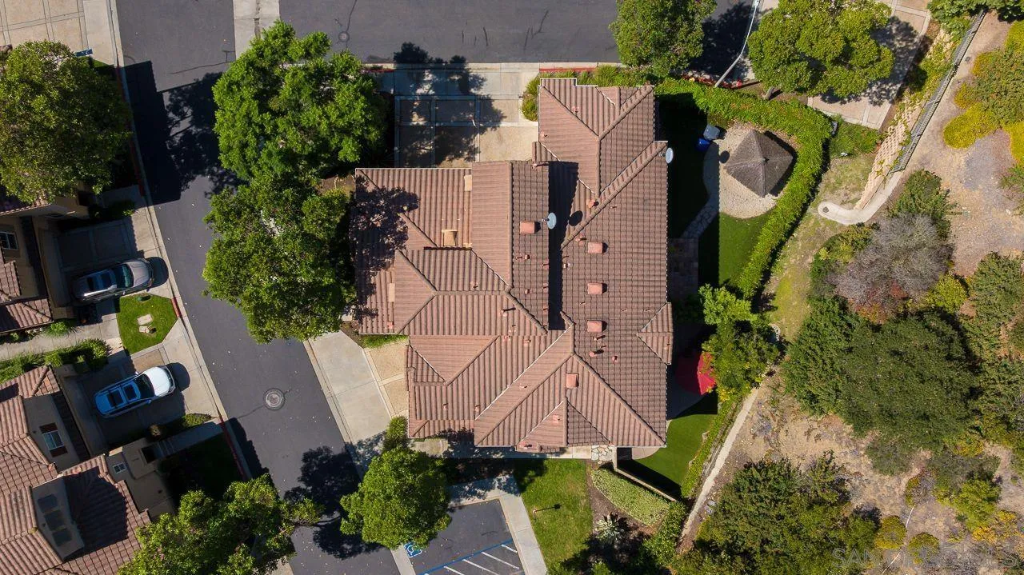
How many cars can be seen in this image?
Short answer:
2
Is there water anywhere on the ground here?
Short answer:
No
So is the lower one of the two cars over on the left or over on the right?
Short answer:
left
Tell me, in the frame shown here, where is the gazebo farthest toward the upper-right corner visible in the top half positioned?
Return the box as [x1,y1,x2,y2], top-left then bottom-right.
[723,128,795,198]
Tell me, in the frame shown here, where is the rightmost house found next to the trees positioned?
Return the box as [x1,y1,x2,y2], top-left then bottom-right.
[355,77,679,454]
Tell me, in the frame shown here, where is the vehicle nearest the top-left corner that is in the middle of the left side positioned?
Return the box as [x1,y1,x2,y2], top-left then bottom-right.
[62,256,153,304]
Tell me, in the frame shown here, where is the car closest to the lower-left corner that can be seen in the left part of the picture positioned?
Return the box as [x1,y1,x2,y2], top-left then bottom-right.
[84,366,174,421]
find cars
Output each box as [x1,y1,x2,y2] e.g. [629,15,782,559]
[62,256,153,304]
[84,366,174,421]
